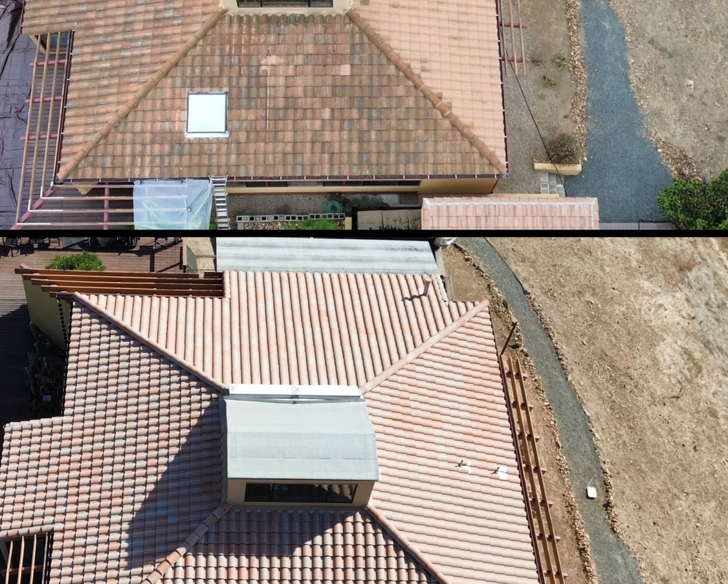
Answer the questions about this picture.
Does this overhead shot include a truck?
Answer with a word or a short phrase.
No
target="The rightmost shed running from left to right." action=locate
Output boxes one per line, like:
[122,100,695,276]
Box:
[421,193,603,228]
